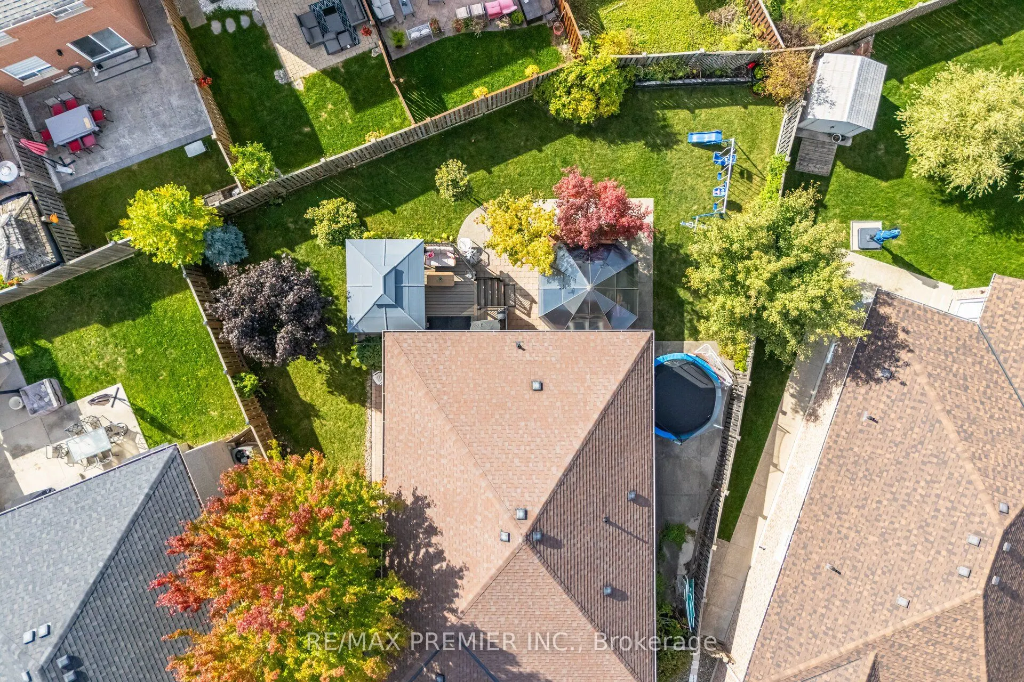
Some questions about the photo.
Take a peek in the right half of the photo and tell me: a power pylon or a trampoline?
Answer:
trampoline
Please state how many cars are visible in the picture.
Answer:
none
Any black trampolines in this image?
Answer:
Yes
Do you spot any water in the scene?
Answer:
No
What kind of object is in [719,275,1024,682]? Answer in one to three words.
house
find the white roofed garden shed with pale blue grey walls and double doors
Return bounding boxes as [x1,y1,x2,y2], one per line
[798,53,886,138]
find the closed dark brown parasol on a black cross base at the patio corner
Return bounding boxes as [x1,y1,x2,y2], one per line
[84,387,121,408]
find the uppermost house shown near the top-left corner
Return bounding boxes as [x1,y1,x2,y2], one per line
[0,0,156,96]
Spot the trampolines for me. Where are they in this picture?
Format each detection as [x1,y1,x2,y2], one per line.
[656,354,727,448]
